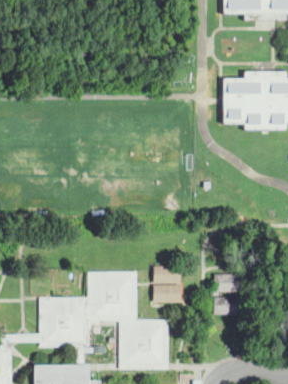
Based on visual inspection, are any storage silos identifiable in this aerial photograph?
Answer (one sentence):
No, the picture doesn't show any storage silo.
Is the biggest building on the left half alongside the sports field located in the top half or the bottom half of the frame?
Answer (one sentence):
You can find the biggest building on the left half alongside the sports field in the bottom half.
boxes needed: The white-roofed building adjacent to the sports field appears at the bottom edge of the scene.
[38,272,168,370]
